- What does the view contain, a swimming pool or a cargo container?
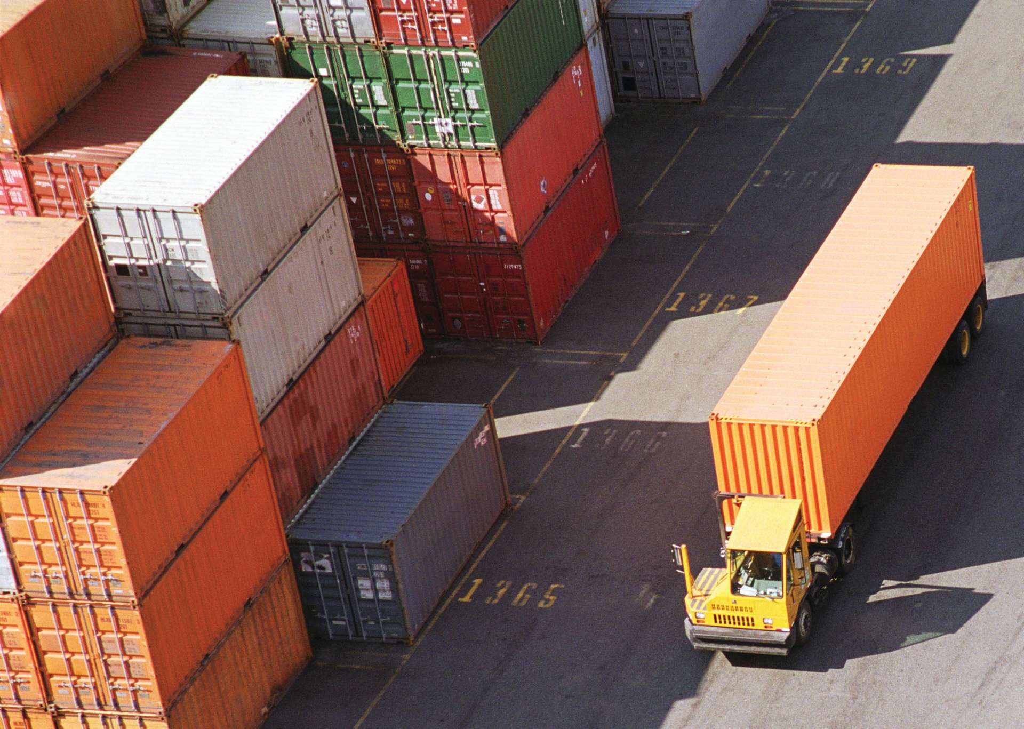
cargo container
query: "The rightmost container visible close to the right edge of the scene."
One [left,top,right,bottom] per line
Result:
[708,163,985,537]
